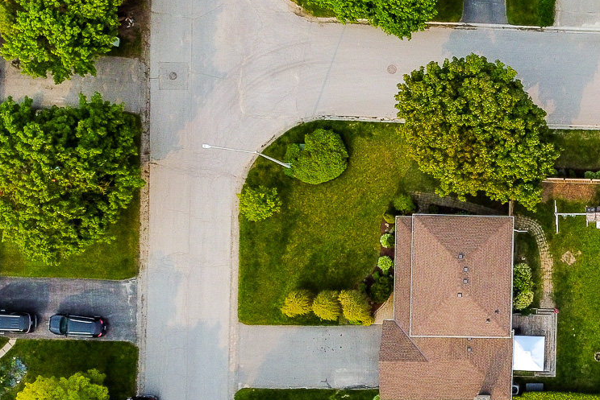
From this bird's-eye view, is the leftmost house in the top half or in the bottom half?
bottom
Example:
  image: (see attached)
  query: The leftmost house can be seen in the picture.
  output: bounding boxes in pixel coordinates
[379,214,530,400]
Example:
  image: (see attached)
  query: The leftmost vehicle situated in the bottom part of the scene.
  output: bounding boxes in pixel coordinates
[0,312,38,335]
